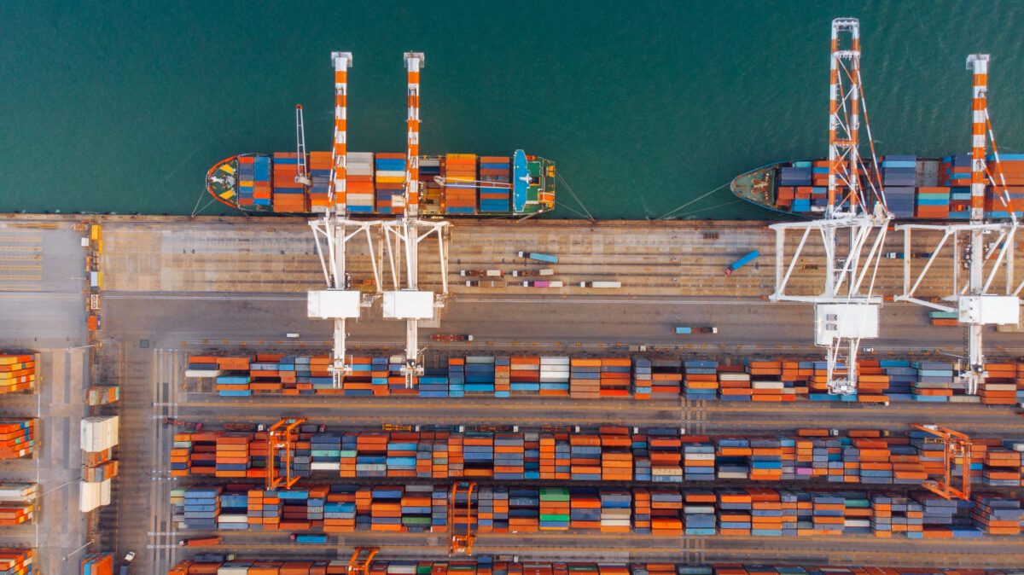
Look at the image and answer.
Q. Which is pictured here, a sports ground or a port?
port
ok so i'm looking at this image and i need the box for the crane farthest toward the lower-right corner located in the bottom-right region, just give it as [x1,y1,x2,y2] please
[912,423,972,495]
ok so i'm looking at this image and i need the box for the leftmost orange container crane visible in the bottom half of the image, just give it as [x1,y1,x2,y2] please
[268,417,311,489]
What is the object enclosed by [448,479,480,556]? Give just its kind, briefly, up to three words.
container crane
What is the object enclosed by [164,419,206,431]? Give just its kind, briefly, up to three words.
vehicle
